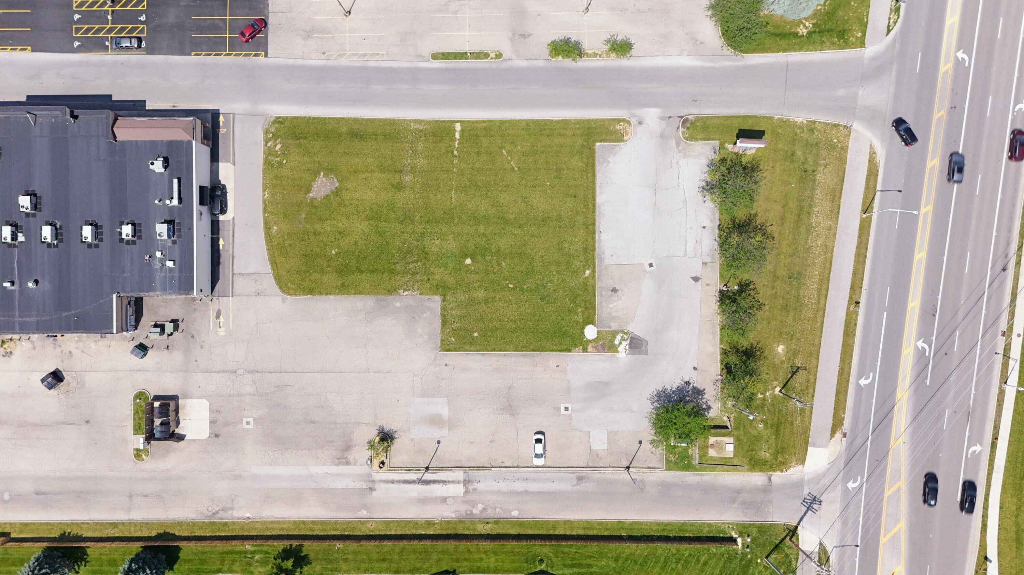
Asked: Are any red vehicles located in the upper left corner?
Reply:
Yes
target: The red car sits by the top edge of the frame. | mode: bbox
[236,17,268,45]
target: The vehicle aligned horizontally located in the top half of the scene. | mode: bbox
[110,35,143,51]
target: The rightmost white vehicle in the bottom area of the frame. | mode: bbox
[532,433,546,466]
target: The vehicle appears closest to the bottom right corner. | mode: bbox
[958,480,977,513]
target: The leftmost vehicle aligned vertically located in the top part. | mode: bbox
[212,184,228,217]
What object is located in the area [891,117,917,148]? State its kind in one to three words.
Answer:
car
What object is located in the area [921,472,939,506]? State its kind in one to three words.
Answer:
car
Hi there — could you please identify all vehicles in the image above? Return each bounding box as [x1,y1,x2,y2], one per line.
[110,35,143,51]
[532,433,546,466]
[946,151,965,185]
[891,117,917,148]
[958,480,977,513]
[236,17,268,45]
[1007,128,1024,162]
[212,184,228,217]
[921,472,939,506]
